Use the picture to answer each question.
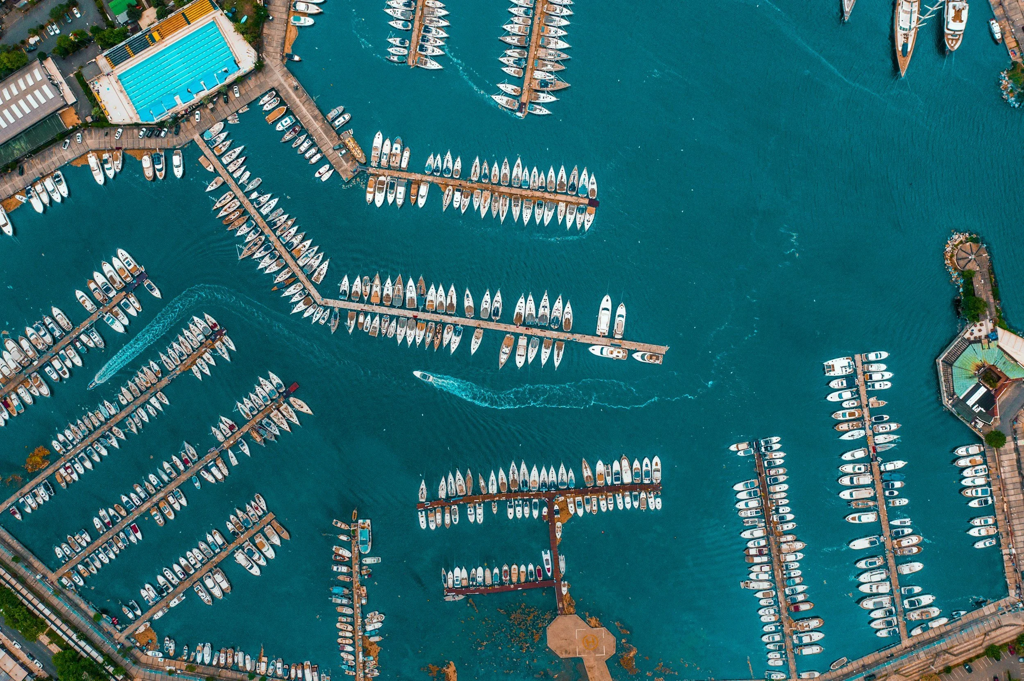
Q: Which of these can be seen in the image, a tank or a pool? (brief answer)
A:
pool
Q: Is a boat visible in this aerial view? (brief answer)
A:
Yes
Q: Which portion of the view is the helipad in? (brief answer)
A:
bottom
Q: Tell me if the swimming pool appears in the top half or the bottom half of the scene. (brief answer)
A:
top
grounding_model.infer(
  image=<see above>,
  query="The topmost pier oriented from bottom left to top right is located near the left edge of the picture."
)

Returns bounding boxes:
[0,271,149,397]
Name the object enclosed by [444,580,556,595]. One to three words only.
pier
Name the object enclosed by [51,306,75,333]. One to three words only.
boat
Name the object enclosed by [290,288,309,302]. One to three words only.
boat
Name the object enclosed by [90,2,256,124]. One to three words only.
swimming pool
